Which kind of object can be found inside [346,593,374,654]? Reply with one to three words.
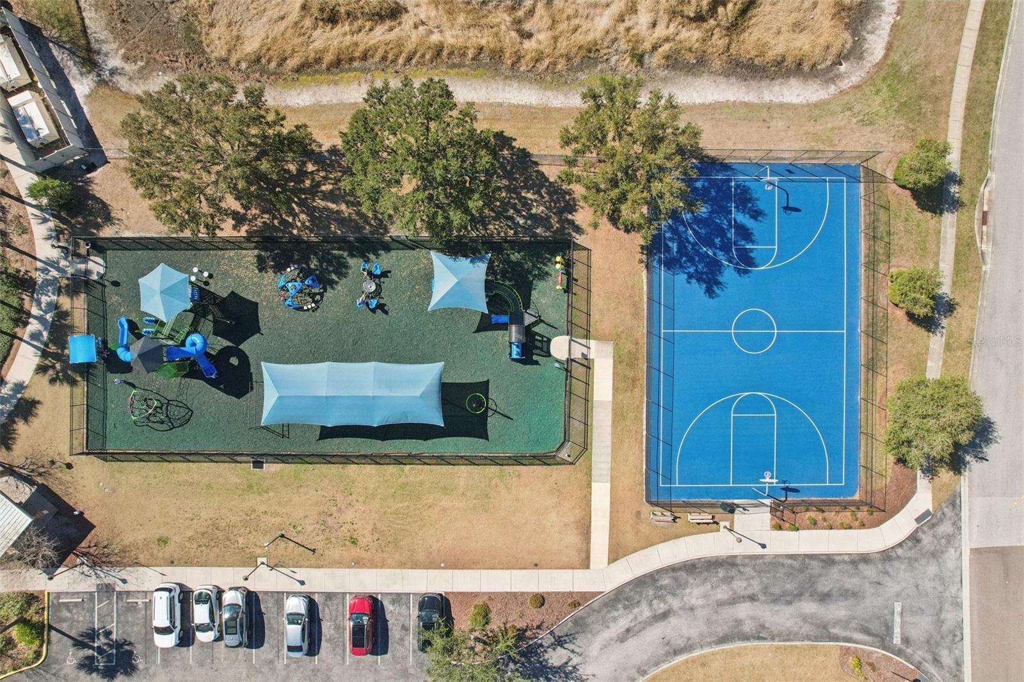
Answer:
car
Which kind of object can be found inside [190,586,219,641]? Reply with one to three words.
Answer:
car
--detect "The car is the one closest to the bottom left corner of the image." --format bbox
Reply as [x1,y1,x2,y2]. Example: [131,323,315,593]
[148,583,181,645]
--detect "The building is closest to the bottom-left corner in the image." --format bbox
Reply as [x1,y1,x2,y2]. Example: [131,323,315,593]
[0,489,54,556]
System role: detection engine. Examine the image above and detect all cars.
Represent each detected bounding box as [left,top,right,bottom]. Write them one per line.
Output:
[219,586,249,646]
[418,591,446,652]
[148,583,181,645]
[280,593,309,654]
[190,586,219,641]
[346,593,374,654]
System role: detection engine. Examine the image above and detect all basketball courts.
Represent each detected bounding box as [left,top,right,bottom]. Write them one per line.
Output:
[645,162,862,503]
